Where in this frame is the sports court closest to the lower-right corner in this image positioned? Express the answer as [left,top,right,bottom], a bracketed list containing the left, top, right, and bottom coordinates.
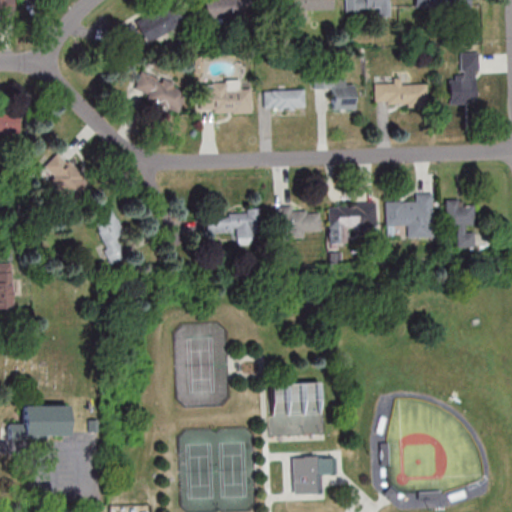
[268,382,324,434]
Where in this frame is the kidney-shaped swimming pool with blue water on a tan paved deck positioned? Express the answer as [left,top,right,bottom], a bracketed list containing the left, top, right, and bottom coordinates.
[208,60,236,77]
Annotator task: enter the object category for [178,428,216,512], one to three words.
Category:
tennis court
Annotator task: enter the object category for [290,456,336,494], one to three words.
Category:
building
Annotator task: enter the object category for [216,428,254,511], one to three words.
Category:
tennis court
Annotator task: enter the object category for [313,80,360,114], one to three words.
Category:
house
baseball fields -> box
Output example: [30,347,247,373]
[388,398,482,492]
